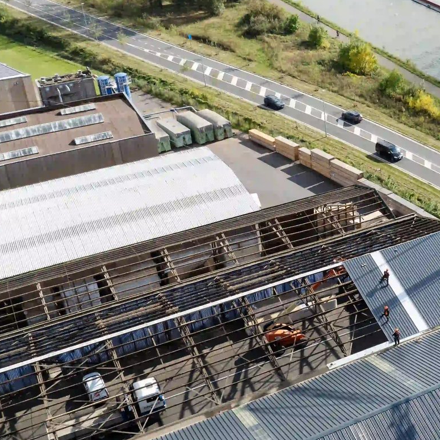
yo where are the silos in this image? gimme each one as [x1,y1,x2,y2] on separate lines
[118,71,142,108]
[100,76,121,95]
